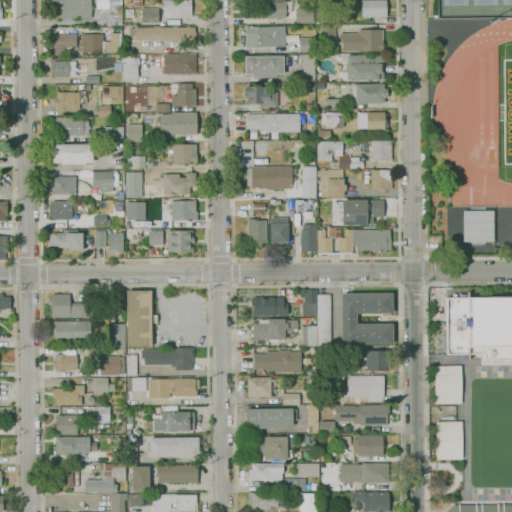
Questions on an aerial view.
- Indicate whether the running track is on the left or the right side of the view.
right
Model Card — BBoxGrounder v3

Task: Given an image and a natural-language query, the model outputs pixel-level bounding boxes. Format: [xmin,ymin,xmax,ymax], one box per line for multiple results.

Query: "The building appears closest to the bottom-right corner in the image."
[436,422,465,460]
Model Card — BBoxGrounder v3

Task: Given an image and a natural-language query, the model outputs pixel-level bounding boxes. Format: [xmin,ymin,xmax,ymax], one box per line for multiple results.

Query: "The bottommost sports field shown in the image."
[472,378,512,487]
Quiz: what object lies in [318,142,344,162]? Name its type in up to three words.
shed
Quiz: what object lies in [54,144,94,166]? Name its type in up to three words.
house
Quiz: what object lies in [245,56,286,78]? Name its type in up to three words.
building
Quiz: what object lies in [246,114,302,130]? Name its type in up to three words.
building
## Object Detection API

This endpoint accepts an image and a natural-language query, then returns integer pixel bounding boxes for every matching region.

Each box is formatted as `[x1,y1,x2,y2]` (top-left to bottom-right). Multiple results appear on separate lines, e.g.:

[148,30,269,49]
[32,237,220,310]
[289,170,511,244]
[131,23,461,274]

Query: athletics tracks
[434,20,512,206]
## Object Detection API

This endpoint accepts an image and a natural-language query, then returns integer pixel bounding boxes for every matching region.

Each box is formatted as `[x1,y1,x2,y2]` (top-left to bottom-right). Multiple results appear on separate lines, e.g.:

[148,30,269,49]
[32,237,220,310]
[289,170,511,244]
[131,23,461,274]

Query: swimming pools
[319,59,338,76]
